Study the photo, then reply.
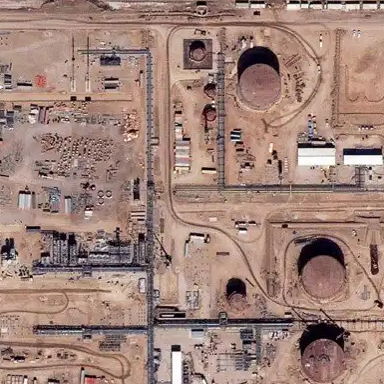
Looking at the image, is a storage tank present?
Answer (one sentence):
Yes, there's a storage tank down there.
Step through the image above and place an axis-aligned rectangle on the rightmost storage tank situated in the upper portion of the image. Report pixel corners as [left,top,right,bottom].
[236,64,283,111]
